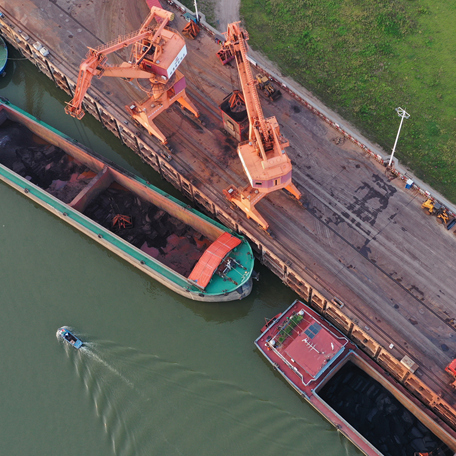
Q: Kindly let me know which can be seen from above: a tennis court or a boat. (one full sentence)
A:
The image shows a boat.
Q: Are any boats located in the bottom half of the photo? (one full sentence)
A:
Yes, a boat shows up in the bottom half of the photo.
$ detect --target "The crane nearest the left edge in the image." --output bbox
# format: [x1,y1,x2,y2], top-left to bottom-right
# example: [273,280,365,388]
[60,4,200,209]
